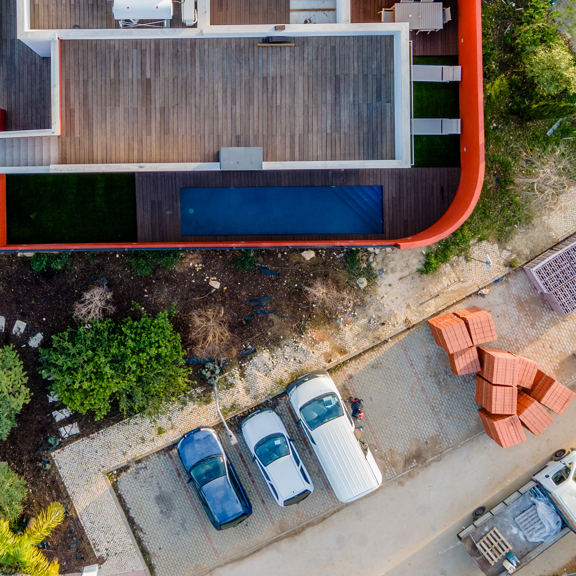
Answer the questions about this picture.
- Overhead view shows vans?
Yes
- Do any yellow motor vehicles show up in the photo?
No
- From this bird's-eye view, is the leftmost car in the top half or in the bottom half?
bottom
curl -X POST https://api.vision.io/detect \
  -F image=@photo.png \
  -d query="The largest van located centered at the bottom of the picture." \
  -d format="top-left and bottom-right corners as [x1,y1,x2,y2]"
[283,360,397,519]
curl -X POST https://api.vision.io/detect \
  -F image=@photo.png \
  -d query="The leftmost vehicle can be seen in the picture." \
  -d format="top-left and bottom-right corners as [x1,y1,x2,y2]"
[177,420,259,538]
